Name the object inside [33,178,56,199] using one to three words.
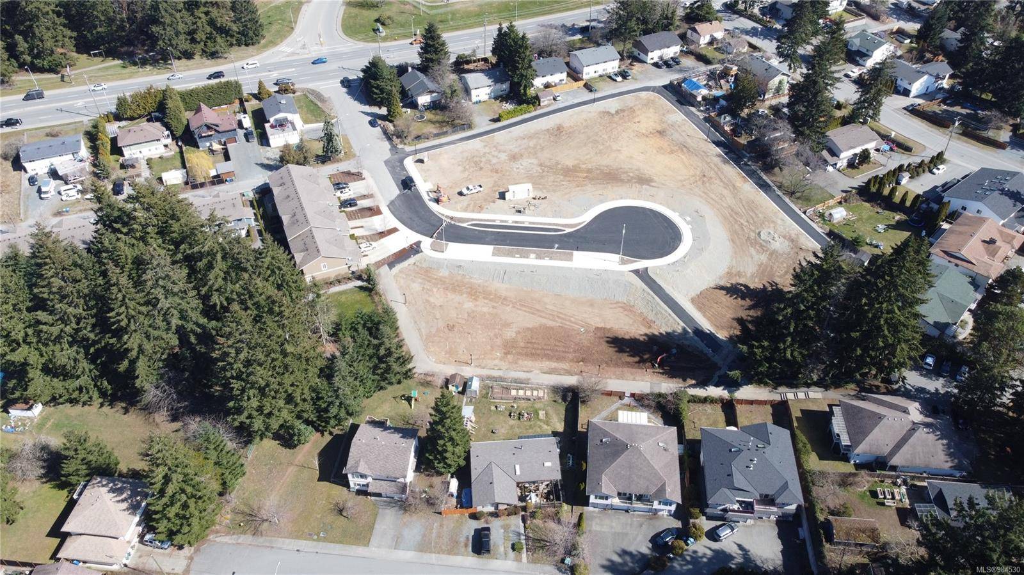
vehicle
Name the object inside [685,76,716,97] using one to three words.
shed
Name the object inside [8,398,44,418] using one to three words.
shed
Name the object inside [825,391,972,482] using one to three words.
house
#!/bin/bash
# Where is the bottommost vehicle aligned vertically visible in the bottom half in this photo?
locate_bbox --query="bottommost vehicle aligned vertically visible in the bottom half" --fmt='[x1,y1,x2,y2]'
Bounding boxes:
[479,523,492,555]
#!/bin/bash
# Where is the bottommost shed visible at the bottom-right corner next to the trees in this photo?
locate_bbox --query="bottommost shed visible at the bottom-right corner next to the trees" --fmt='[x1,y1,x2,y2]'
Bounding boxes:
[826,516,881,550]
